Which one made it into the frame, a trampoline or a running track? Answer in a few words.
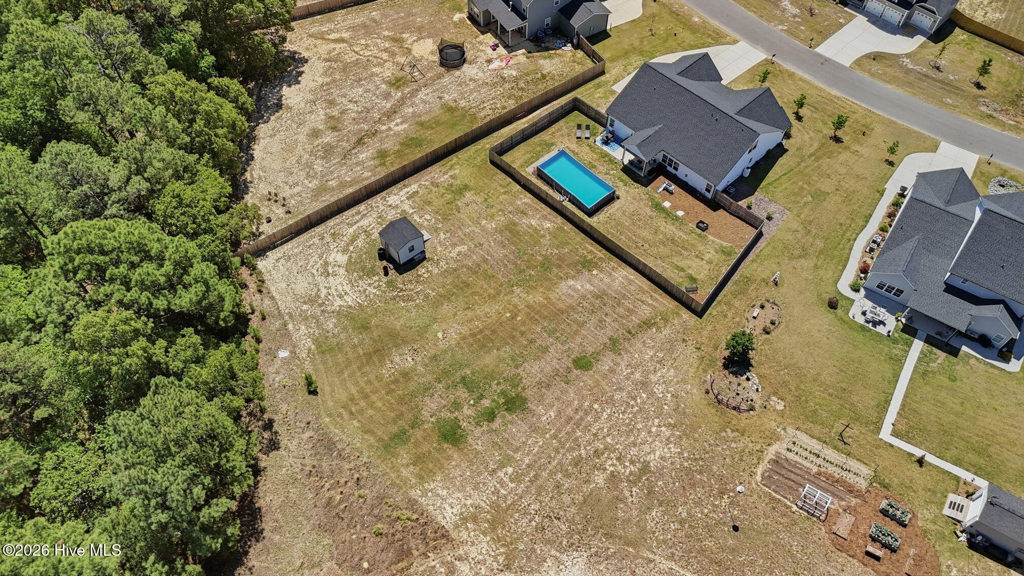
trampoline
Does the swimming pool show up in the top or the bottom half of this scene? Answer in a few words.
top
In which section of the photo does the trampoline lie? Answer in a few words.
top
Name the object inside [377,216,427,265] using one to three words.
shed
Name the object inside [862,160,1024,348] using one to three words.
house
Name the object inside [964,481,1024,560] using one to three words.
shed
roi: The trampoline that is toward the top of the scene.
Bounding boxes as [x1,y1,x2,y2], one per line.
[436,41,466,72]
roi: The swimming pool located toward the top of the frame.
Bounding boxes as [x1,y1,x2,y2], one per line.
[538,150,616,215]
